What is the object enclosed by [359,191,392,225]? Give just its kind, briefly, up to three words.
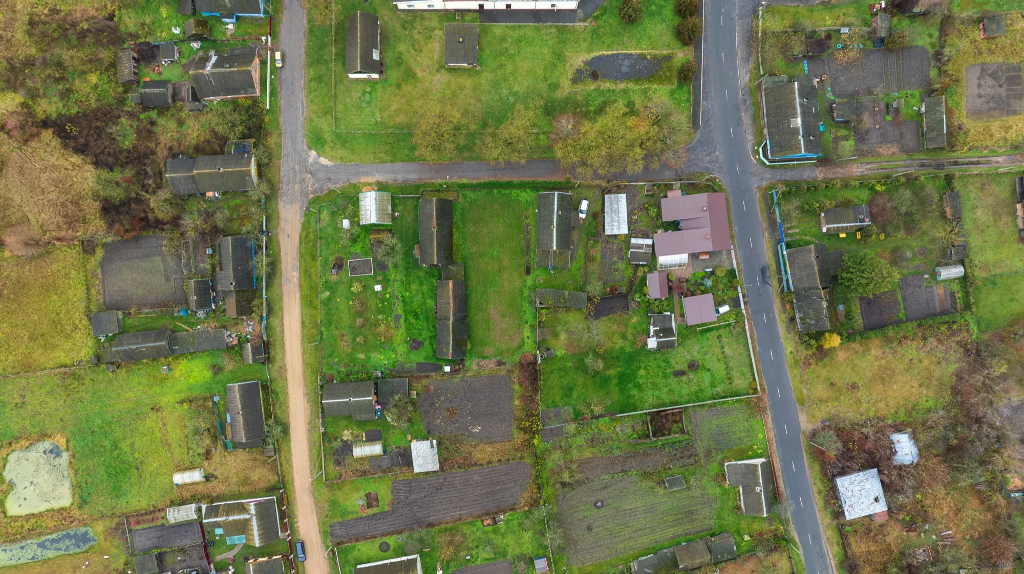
building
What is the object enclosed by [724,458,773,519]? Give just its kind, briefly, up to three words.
house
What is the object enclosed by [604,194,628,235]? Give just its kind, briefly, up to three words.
shed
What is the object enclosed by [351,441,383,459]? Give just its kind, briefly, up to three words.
greenhouse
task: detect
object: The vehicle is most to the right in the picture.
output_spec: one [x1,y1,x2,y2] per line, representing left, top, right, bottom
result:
[758,265,770,283]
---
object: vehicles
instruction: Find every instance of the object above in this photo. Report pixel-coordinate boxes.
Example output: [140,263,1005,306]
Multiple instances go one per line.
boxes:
[715,304,731,315]
[297,541,306,561]
[758,265,770,283]
[276,51,284,68]
[579,199,588,218]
